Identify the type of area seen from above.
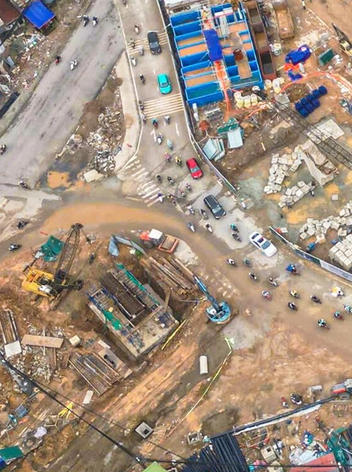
industrial area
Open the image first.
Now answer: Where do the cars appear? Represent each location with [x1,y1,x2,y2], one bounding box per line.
[148,32,161,52]
[203,194,223,219]
[250,232,274,255]
[187,157,202,179]
[157,72,170,92]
